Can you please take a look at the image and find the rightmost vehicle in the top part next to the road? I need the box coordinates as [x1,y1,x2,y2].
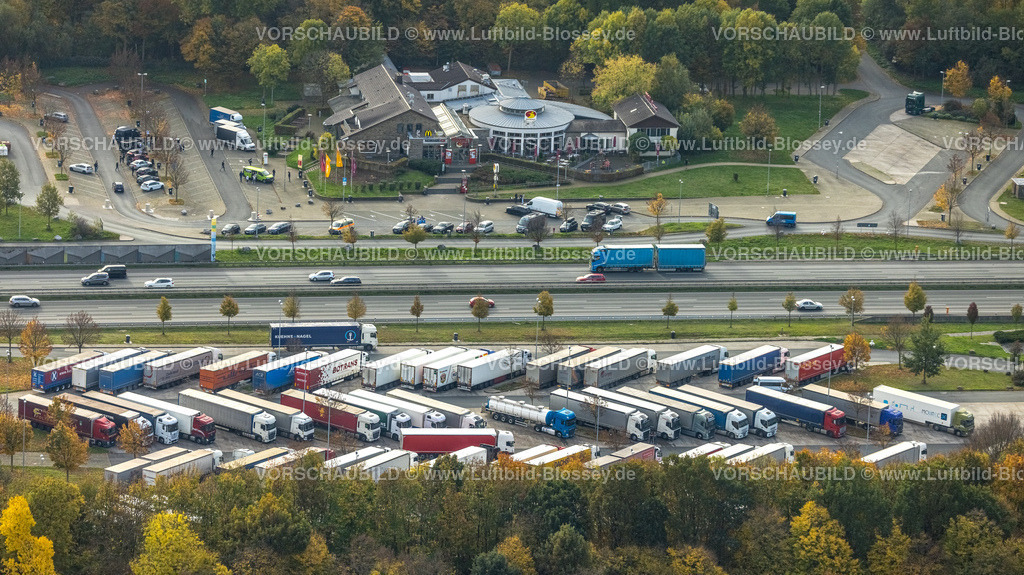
[902,92,931,114]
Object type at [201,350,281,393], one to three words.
truck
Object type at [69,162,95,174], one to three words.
vehicle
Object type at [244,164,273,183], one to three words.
vehicle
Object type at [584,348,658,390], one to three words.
truck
